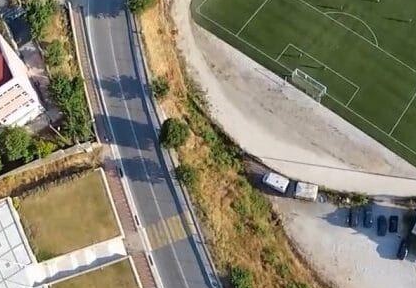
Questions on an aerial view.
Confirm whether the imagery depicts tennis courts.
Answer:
No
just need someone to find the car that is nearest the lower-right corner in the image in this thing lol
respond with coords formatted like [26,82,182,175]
[398,237,411,261]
